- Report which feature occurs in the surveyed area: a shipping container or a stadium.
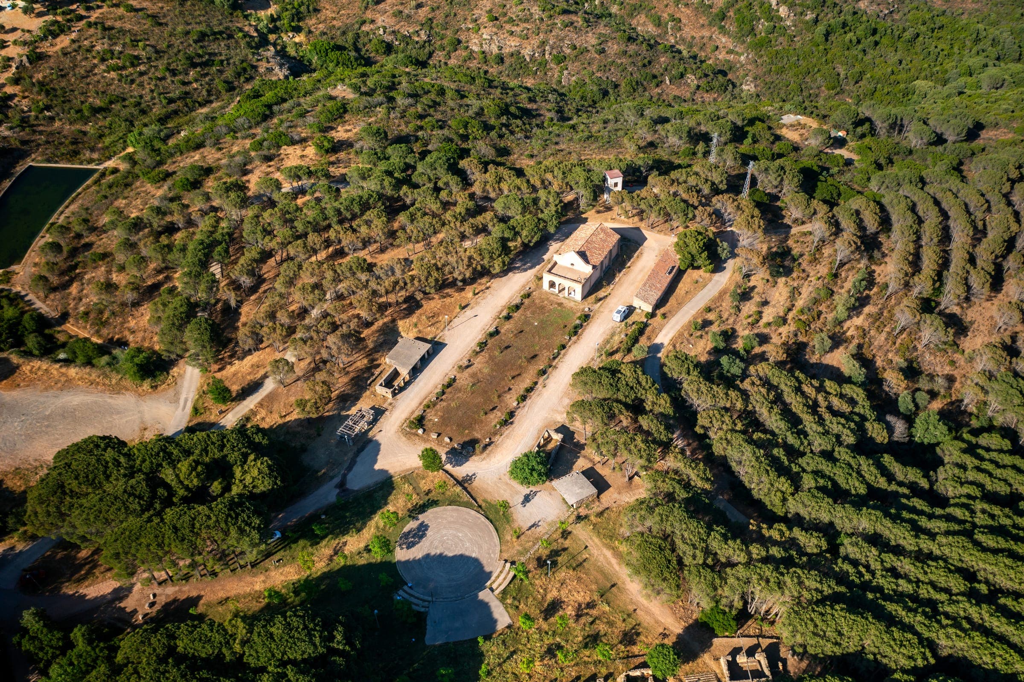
stadium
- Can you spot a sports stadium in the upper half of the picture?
No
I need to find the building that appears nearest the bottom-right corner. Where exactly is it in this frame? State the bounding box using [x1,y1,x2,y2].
[719,651,783,682]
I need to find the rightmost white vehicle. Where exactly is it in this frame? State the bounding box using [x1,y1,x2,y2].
[612,302,630,322]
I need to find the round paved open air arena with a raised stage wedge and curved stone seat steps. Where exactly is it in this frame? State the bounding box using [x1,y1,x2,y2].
[391,505,513,645]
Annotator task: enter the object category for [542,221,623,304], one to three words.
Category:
building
